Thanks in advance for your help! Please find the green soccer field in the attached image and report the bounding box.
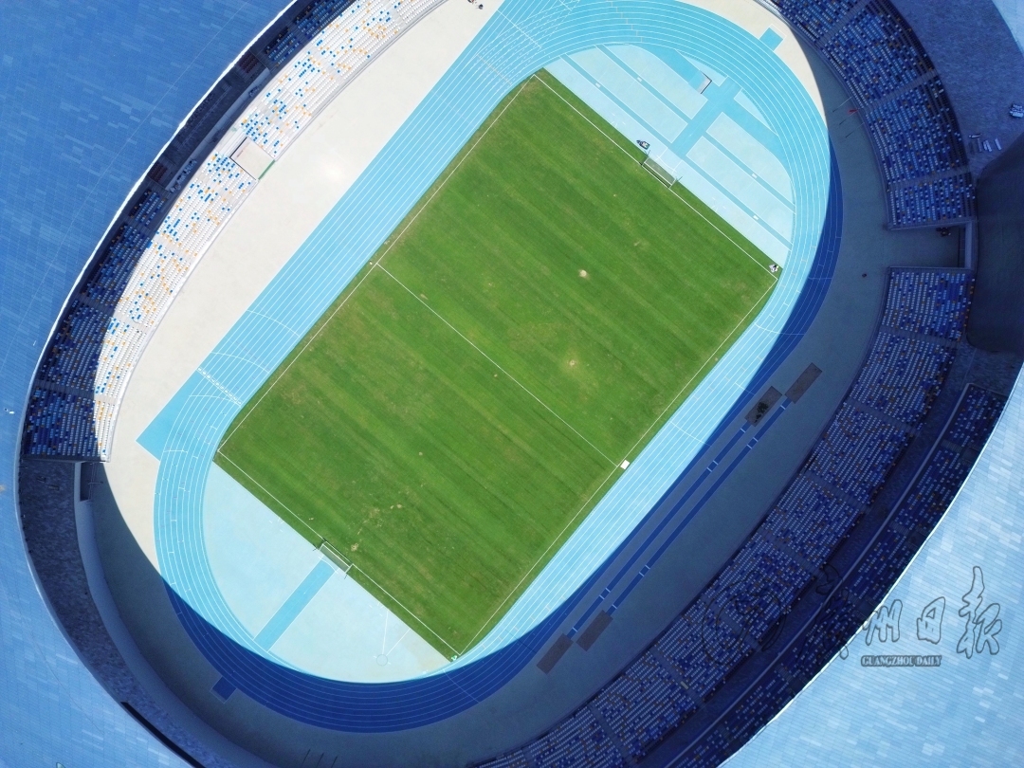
[213,67,783,662]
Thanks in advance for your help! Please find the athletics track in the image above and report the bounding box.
[137,0,843,732]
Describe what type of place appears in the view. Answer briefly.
sports ground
